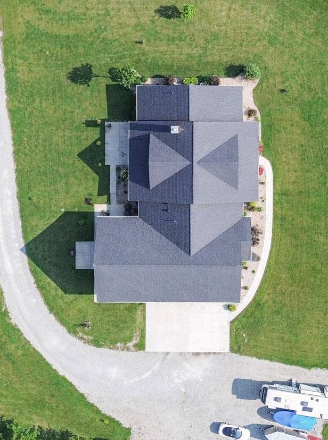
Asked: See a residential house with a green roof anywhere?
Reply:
No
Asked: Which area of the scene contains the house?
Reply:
center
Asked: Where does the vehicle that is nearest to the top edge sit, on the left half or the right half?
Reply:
right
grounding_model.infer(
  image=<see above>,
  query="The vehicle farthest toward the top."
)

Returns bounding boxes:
[257,378,328,419]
